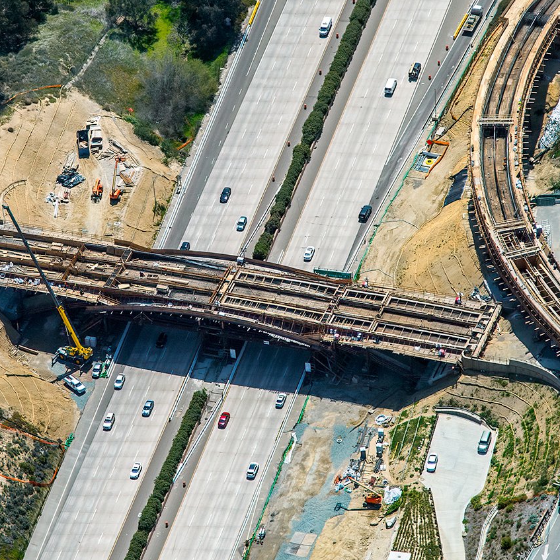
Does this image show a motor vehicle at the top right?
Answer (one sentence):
Yes, a motor vehicle can be seen at the top right.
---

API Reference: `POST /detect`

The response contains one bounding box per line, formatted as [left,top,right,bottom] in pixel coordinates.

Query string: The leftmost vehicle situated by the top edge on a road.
[319,17,332,34]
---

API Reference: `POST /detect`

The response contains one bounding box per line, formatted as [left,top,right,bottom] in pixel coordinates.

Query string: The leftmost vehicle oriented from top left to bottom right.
[63,375,85,392]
